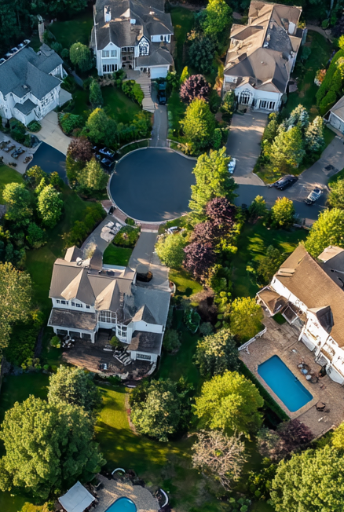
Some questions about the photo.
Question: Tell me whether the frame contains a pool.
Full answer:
Yes, the photo shows a pool.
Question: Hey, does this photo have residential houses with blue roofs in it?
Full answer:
Yes, there's a residential house with a blue roof down there.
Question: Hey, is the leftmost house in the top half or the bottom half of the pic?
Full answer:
Seen from above, the leftmost house lies in the top half of the view.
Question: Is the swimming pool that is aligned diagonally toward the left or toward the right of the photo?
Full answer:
The swimming pool that is aligned diagonally appears in the right half of the scene.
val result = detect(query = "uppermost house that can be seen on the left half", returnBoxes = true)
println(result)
[94,0,175,78]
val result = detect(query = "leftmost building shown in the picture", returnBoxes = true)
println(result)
[0,38,65,128]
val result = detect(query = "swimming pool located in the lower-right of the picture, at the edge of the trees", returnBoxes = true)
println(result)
[251,349,319,416]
